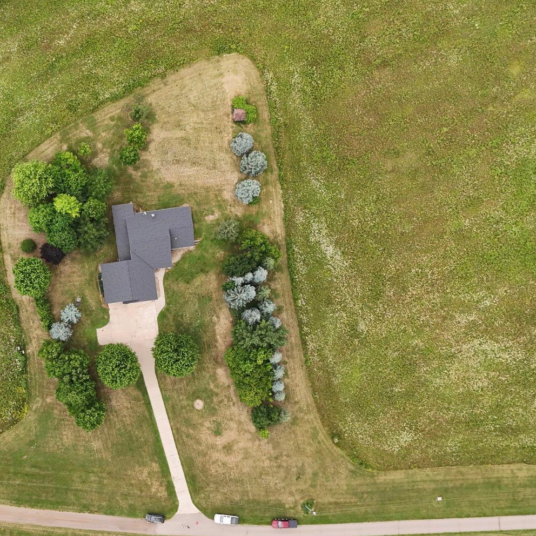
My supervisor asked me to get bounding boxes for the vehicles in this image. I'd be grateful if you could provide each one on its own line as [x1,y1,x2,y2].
[145,513,164,523]
[214,514,239,524]
[271,519,297,527]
